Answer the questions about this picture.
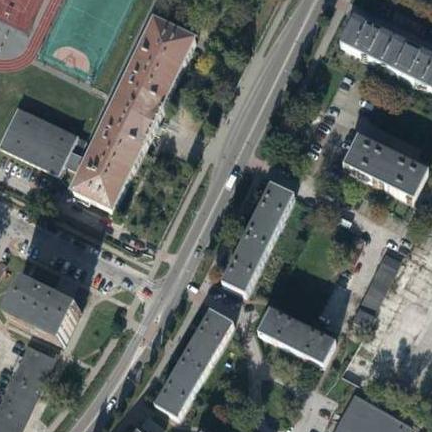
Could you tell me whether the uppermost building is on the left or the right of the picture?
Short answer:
right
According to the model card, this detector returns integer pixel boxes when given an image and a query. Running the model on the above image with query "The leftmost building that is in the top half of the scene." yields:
[0,107,85,178]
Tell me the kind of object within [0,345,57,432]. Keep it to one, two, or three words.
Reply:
building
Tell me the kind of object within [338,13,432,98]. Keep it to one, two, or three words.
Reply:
building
